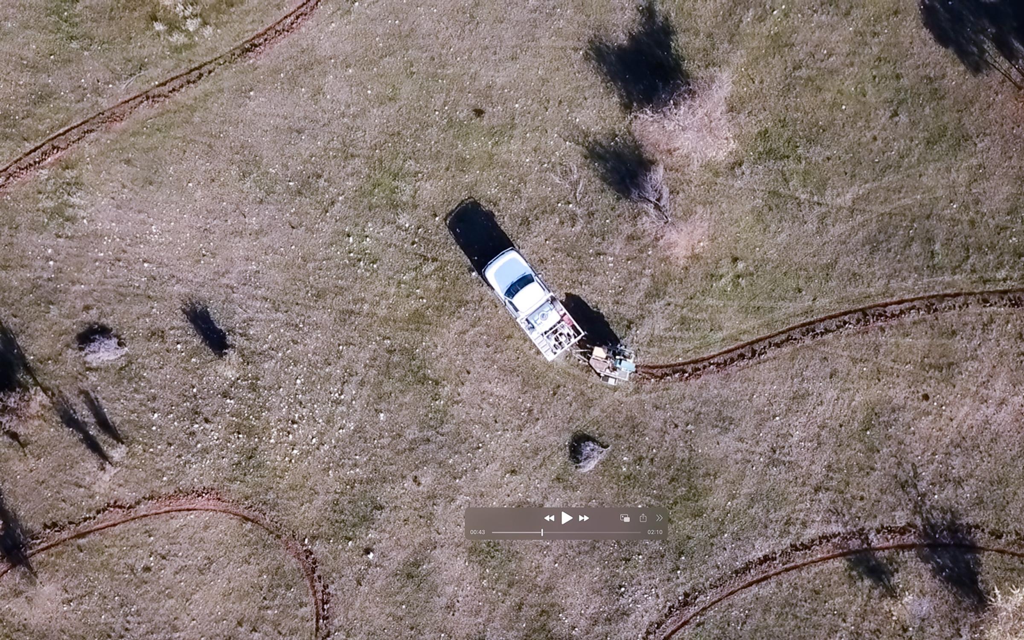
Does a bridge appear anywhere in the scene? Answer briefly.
No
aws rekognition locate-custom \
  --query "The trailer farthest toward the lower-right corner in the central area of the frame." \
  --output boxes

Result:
[570,340,638,386]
